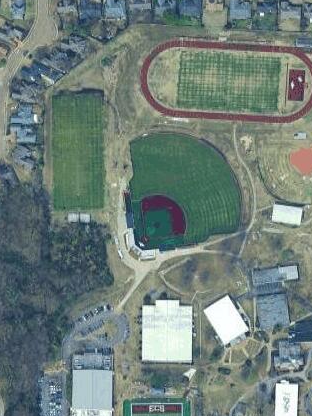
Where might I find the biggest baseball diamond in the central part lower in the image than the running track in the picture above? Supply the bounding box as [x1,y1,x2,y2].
[125,132,242,251]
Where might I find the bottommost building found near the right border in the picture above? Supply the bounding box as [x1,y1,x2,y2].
[275,380,298,416]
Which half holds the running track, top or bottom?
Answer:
top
